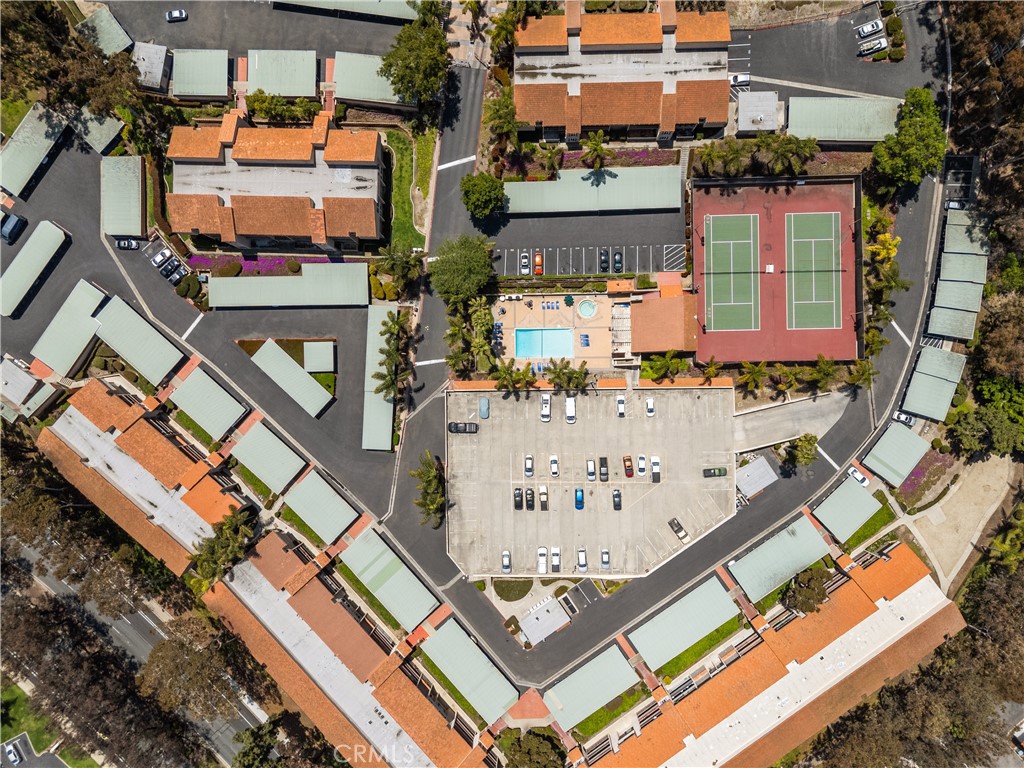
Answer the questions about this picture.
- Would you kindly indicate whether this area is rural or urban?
urban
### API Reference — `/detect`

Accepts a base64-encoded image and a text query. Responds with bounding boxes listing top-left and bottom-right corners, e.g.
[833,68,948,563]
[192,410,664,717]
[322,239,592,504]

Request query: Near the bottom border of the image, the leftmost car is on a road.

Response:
[5,742,23,764]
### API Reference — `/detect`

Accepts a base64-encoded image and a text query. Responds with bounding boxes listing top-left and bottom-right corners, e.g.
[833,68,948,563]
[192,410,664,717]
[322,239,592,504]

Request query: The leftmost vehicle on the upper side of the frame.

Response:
[0,215,25,244]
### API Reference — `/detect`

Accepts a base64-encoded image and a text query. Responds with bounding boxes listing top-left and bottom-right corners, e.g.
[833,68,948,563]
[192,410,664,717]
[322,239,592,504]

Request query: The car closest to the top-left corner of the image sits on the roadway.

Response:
[166,10,189,22]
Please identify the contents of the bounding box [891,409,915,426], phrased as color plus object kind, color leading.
white car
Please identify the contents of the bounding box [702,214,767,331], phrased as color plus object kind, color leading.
green tennis court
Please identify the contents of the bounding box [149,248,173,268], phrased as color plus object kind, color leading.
white car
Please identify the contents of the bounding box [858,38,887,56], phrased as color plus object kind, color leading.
white vehicle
